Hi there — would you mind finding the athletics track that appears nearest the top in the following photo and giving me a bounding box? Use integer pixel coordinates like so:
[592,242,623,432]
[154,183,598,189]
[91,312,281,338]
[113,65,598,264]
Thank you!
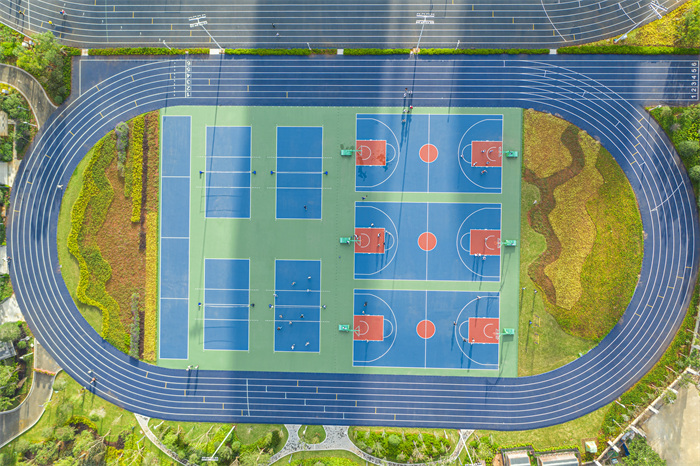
[0,0,679,49]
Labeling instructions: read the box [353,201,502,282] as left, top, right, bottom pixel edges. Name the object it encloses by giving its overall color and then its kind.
blue basketball court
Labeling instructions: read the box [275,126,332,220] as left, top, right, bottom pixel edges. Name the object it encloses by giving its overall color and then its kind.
blue sports court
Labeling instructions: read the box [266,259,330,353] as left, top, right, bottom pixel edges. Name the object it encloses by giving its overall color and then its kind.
blue sports court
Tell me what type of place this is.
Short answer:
sports ground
